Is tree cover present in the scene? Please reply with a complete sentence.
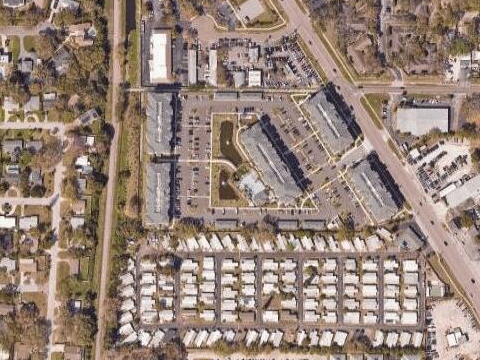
Yes, some tree cover is visible.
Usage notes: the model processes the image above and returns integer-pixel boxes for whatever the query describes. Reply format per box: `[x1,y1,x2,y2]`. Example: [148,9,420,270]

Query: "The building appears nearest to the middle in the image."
[239,170,269,206]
